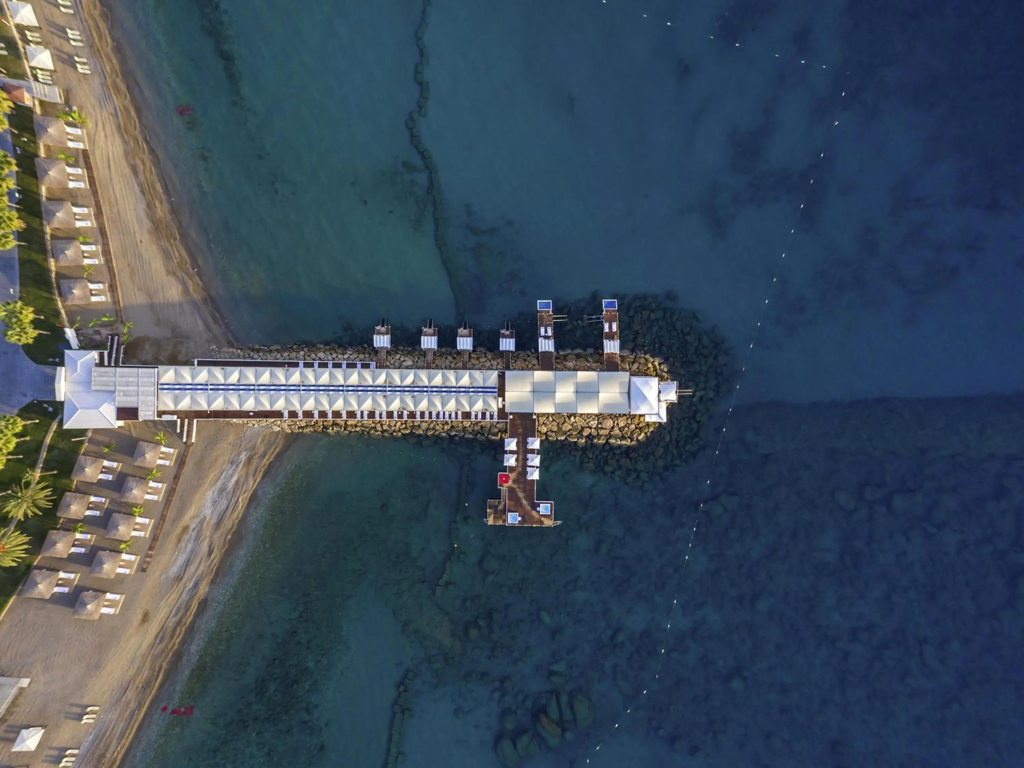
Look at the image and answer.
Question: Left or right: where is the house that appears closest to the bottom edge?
left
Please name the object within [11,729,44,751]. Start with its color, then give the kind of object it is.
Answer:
white umbrella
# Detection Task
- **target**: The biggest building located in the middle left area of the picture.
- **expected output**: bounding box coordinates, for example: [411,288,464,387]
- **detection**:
[55,350,129,429]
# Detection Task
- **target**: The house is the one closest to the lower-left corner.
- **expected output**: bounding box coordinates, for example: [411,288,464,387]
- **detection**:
[0,675,35,721]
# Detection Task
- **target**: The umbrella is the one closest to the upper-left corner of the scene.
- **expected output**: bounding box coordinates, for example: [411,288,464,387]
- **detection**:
[7,1,38,26]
